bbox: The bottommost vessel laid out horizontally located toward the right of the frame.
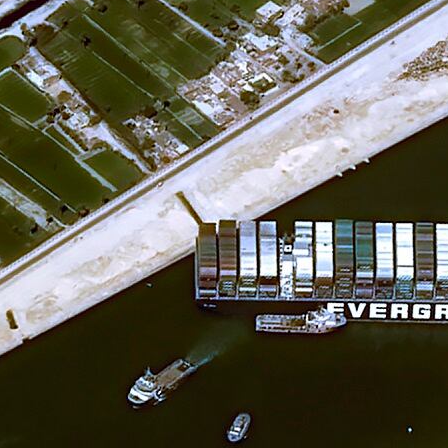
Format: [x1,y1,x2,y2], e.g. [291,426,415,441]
[256,306,346,331]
